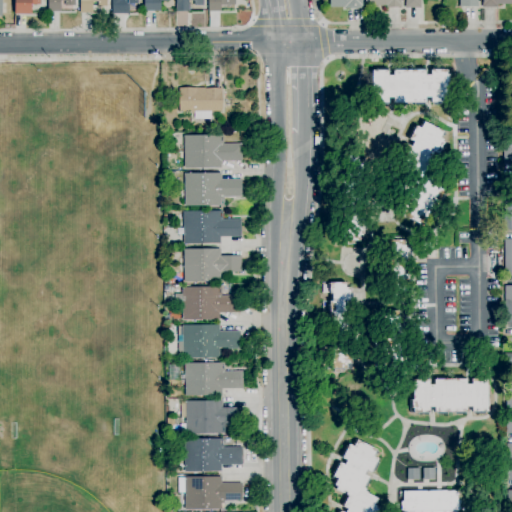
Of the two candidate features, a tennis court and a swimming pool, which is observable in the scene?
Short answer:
swimming pool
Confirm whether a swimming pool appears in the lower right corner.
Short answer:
Yes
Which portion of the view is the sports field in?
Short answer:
left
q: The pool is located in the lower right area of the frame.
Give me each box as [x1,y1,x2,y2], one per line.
[410,435,446,461]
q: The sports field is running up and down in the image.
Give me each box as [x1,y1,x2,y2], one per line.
[0,62,158,512]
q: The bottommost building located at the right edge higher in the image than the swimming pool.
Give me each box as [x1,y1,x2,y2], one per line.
[414,378,490,412]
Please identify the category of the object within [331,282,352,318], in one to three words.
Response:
building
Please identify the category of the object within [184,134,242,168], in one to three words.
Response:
house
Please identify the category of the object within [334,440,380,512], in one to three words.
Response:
building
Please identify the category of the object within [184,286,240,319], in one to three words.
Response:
house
